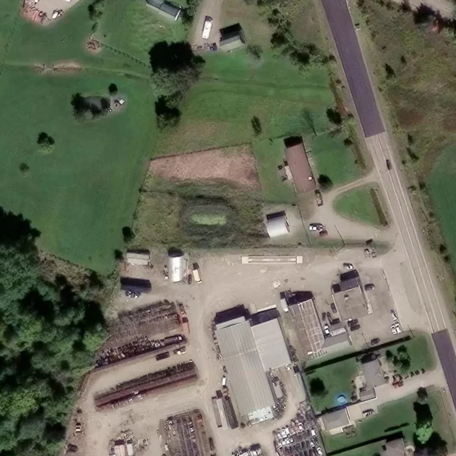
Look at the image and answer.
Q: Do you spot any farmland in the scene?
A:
Yes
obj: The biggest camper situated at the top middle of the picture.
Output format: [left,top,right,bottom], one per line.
[202,15,214,39]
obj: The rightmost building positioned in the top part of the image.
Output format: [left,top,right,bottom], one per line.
[286,143,318,192]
